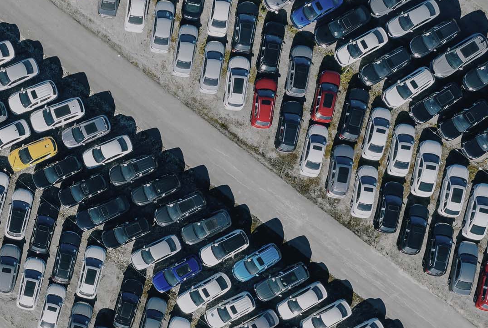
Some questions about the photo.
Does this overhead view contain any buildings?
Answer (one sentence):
No, I find no building anywhere in the image.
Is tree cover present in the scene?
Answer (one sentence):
No, tree cover can't be seen anywhere here.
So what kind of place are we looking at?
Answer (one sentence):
This image shows a parking lot.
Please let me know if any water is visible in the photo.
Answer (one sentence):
No, no water is visible.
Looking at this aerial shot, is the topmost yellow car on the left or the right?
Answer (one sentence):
The topmost yellow car sits on the left side.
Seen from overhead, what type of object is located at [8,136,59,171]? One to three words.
car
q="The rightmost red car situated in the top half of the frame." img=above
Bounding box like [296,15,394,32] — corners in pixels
[309,71,341,123]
